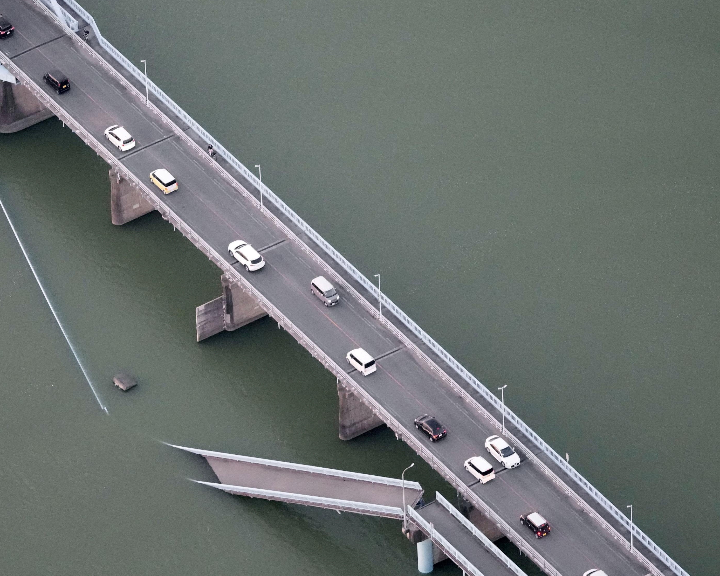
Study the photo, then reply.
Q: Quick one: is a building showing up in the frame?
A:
No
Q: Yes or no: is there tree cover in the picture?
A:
No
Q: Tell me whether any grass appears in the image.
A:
No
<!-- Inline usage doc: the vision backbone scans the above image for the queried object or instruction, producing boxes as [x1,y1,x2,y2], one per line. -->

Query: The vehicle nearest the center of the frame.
[310,274,340,308]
